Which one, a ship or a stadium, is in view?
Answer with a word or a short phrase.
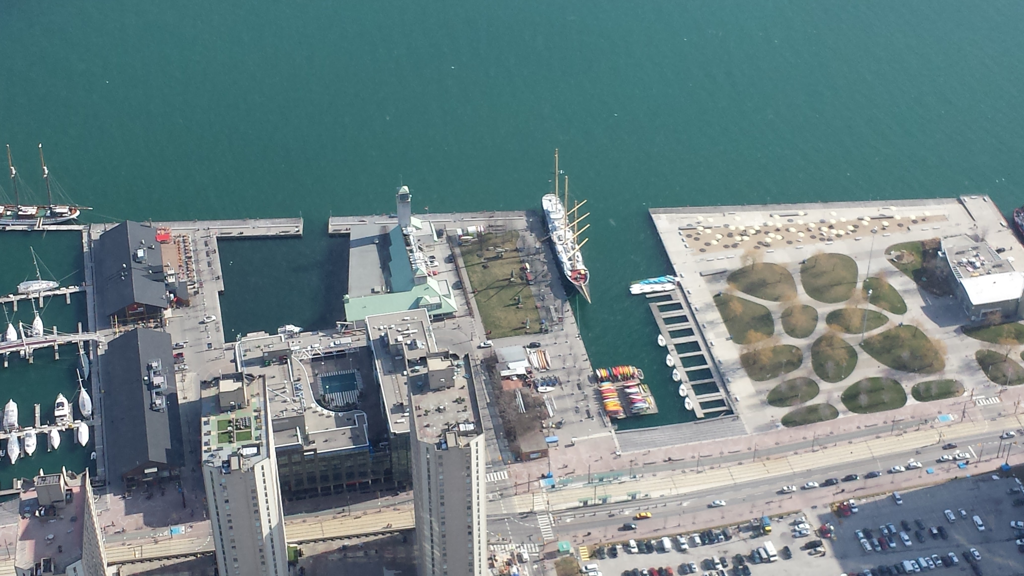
ship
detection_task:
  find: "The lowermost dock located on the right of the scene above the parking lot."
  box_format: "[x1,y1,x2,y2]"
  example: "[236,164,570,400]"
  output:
[596,373,658,420]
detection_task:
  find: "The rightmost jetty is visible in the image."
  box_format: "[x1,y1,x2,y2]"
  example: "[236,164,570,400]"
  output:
[646,292,734,419]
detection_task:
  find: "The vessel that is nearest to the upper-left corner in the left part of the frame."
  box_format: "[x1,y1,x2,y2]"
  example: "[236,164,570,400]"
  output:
[0,149,93,220]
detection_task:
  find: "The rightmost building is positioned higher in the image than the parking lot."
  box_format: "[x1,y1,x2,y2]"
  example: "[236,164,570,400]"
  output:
[937,234,1024,322]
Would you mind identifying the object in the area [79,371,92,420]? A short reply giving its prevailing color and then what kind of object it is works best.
white boat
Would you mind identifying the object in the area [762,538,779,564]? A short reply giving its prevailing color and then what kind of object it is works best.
white vehicle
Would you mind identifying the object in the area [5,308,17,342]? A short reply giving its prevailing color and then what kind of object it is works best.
white boat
